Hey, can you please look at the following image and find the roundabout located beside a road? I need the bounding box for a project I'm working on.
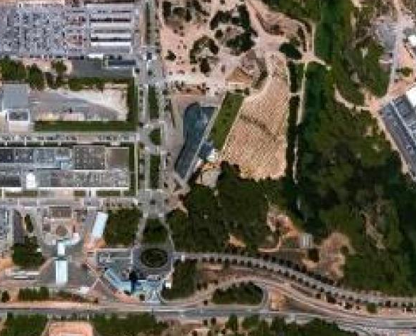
[132,244,176,276]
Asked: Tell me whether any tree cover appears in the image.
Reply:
Yes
